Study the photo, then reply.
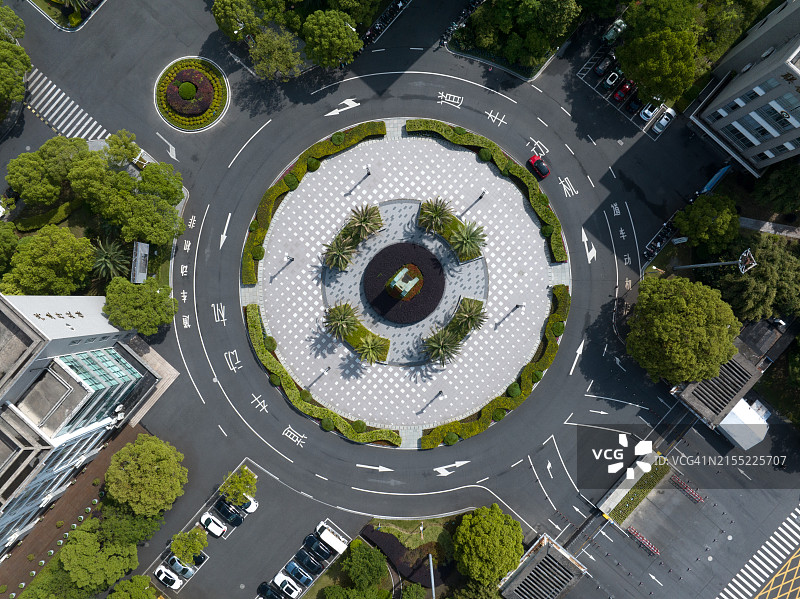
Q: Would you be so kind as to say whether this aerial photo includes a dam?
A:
No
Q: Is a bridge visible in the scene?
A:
No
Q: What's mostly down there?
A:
paved ground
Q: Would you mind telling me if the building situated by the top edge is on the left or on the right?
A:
right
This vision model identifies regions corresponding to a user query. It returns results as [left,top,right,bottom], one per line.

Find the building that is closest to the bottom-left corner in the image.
[0,295,183,538]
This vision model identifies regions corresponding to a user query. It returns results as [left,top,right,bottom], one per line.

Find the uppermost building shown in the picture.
[677,0,800,180]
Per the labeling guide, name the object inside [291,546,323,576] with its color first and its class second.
black car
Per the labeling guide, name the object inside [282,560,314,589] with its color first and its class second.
blue car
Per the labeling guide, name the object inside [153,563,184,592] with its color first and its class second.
white car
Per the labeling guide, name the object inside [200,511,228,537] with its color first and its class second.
white car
